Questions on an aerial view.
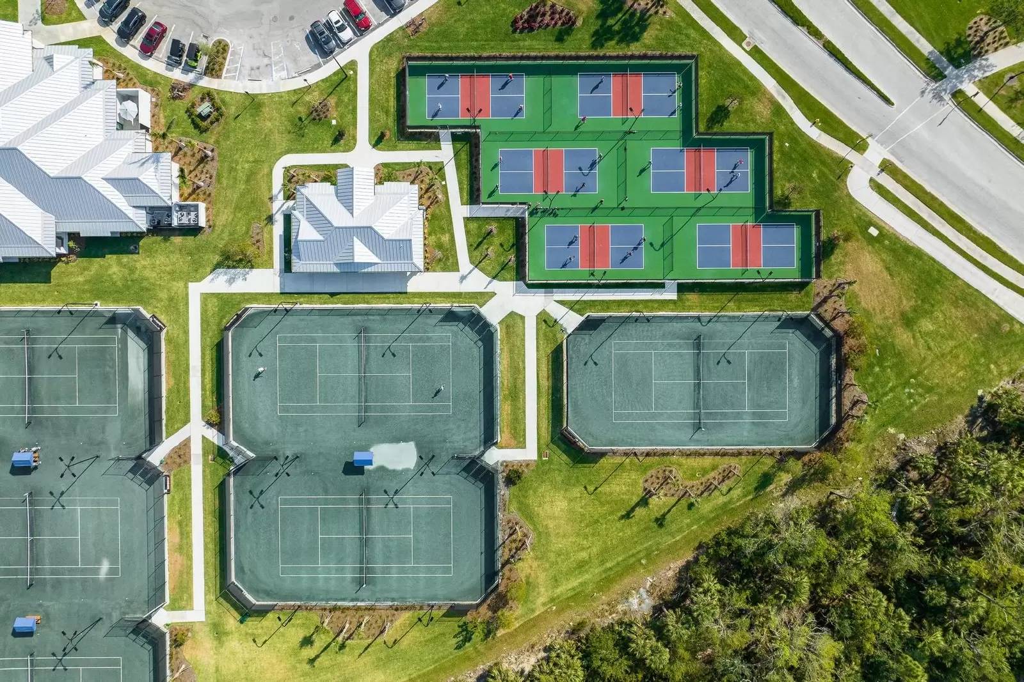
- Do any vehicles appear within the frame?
Yes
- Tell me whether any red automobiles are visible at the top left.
Yes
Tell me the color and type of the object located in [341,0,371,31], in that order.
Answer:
red car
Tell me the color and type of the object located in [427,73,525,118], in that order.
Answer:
blue sports court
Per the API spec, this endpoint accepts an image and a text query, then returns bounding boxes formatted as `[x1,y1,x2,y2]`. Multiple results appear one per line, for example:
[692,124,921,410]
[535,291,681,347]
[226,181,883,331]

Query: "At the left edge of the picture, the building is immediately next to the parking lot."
[0,19,205,257]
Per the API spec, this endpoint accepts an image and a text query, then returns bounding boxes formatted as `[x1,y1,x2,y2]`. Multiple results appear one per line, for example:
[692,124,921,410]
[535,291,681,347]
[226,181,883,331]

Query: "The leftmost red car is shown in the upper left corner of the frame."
[138,19,167,57]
